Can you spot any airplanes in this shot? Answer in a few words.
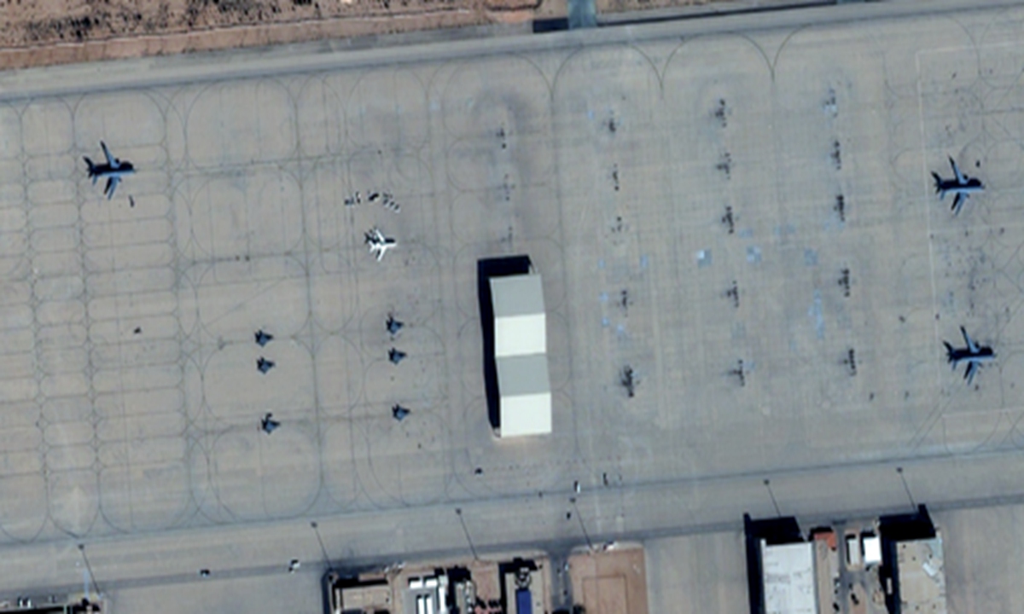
Yes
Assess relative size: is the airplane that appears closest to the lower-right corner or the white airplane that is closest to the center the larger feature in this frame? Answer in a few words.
the airplane that appears closest to the lower-right corner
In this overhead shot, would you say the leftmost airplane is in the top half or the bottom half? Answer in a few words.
top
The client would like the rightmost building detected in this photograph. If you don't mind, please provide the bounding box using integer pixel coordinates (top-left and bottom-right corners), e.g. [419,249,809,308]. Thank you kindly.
[882,529,946,614]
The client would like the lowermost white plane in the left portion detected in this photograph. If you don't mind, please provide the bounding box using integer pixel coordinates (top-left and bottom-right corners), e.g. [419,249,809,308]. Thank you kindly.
[368,230,397,263]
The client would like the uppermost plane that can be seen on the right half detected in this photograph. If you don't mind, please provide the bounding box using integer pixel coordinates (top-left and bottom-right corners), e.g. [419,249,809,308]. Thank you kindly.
[941,163,986,212]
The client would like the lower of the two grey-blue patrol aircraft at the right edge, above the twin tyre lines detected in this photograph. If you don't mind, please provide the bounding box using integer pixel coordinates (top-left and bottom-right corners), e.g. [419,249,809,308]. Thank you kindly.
[952,332,997,380]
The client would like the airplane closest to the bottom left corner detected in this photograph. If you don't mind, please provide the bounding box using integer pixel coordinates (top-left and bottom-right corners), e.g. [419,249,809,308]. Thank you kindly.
[262,419,279,433]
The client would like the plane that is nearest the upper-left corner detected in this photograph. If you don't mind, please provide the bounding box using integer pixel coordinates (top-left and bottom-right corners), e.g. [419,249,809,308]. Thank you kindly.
[91,149,138,199]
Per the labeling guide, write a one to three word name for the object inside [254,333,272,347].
airplane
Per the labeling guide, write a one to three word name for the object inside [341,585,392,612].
building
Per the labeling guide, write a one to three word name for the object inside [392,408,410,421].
airplane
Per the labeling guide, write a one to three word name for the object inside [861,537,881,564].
building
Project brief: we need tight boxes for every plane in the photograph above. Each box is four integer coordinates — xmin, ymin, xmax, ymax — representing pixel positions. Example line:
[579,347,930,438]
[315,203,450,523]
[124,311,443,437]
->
[262,419,279,433]
[257,360,274,373]
[254,333,272,347]
[392,408,410,421]
[388,351,407,364]
[91,149,138,199]
[385,319,403,333]
[941,163,986,212]
[368,230,397,263]
[952,332,997,380]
